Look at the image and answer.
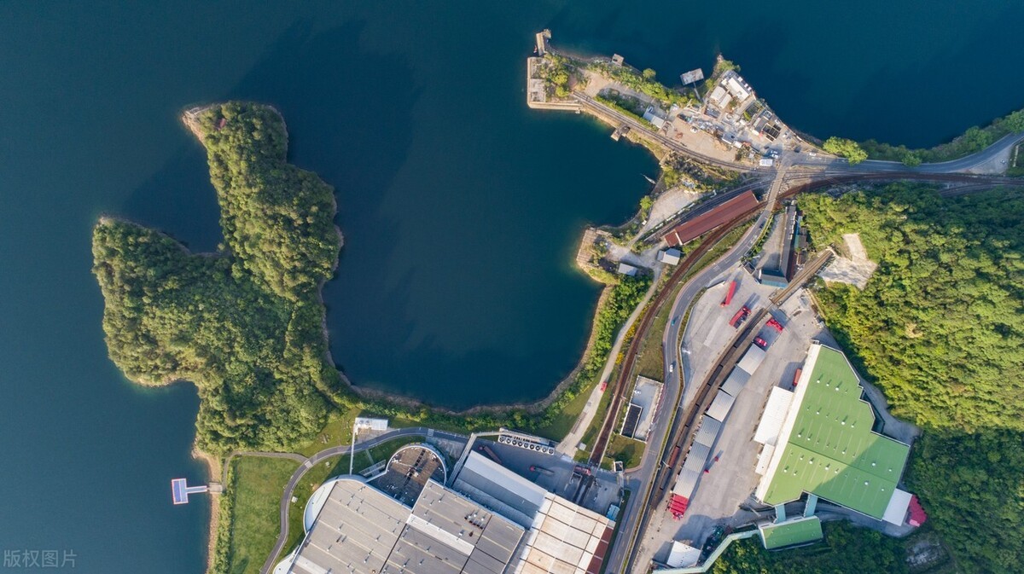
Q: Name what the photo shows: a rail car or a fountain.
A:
rail car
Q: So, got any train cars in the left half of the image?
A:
No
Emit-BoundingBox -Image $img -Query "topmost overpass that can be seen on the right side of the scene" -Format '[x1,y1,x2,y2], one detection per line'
[761,155,794,217]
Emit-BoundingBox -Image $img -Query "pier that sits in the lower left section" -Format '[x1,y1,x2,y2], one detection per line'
[171,478,208,505]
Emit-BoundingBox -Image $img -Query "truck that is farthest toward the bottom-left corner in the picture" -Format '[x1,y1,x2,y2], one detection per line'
[480,443,502,464]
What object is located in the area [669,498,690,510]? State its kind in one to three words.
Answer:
vehicle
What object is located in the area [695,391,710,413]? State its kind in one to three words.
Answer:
rail car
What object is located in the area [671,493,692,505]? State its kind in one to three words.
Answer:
vehicle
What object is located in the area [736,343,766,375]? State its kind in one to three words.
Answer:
shed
